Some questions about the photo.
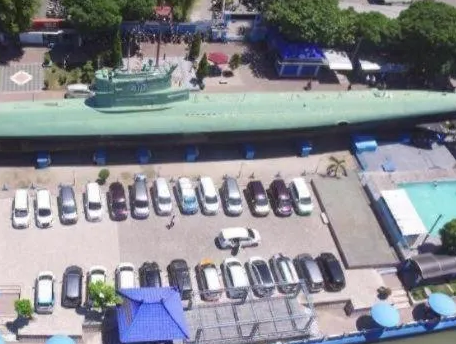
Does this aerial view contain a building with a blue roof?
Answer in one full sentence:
Yes, the image includes a building with a blue roof.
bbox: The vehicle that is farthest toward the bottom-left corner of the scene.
[33,276,55,311]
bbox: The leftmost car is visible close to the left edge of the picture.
[10,190,30,227]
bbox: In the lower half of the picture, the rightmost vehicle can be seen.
[315,254,347,293]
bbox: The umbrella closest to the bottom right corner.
[426,293,456,321]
